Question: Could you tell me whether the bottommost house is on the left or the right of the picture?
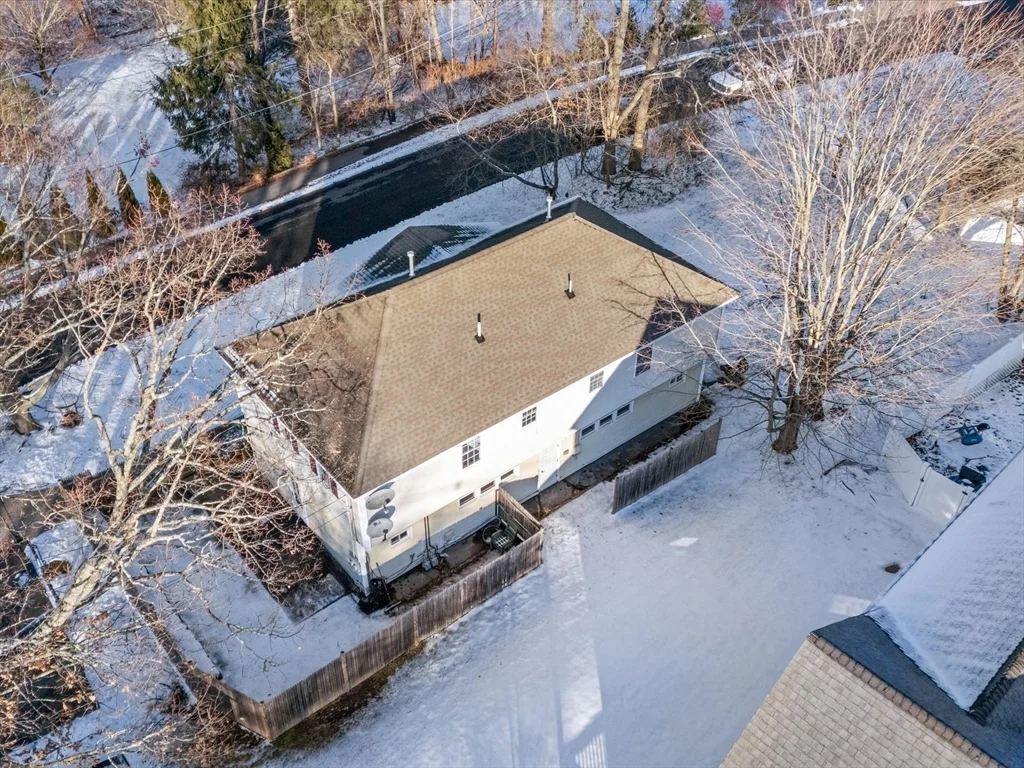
right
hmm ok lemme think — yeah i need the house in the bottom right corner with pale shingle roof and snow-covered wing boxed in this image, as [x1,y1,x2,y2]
[715,446,1024,768]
